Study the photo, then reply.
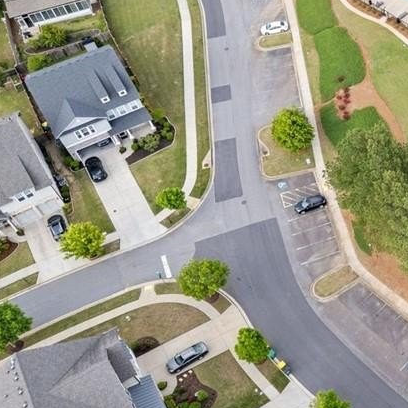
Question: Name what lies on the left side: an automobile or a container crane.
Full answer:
The feature located on the left side is an automobile.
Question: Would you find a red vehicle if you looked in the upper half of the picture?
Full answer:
No, there's no red vehicle to be seen in the upper half of the picture.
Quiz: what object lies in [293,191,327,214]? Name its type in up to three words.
car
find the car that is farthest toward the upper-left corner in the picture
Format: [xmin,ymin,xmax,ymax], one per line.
[80,154,109,183]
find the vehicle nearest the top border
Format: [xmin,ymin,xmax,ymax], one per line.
[260,20,289,36]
